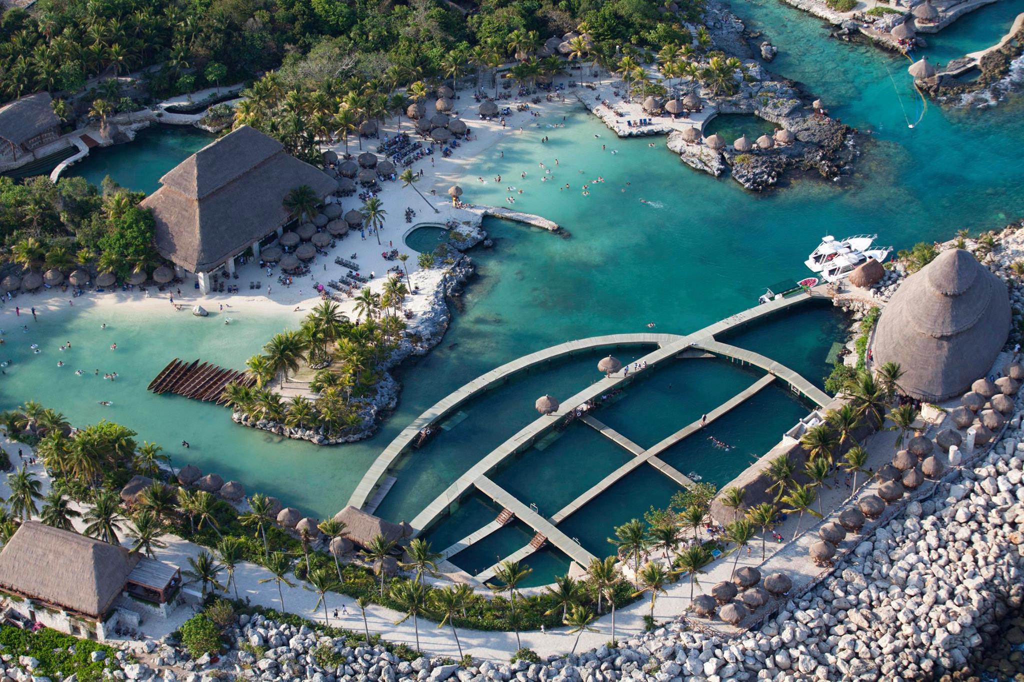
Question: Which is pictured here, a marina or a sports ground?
marina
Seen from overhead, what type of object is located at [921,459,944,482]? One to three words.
umbrella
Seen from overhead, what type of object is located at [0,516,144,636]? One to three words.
shed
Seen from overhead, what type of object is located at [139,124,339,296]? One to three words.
building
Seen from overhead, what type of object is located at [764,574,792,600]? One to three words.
umbrella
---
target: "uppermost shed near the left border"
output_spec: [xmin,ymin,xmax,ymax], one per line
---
[0,98,62,157]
